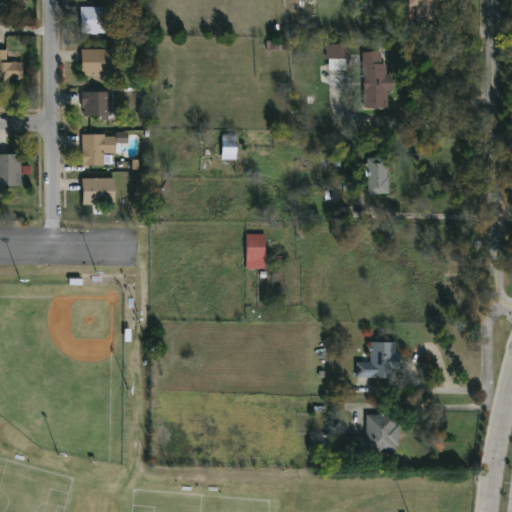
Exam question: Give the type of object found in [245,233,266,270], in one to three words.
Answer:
barn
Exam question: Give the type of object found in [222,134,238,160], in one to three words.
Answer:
shed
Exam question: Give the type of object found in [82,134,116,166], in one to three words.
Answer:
house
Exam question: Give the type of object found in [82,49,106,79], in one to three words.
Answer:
house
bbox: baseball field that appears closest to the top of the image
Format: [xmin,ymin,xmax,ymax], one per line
[0,284,124,464]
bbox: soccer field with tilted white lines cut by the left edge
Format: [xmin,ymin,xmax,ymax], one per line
[0,458,73,512]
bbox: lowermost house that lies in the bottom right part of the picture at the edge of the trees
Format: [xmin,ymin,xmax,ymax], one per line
[366,415,400,453]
